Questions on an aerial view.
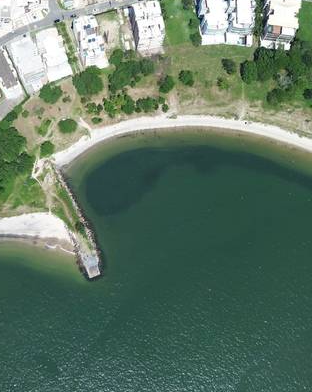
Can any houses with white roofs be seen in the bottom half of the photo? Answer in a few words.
No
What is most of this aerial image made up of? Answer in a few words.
water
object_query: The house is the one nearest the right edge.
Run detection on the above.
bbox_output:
[257,0,302,51]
